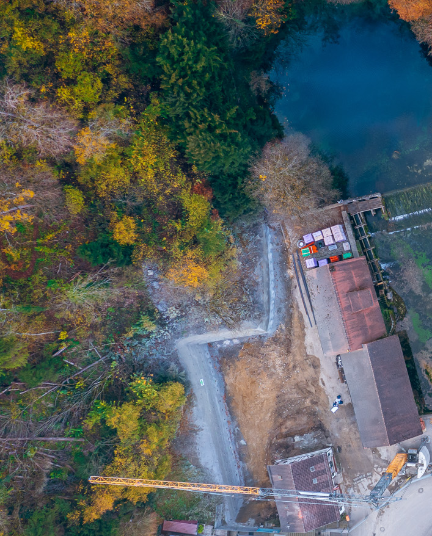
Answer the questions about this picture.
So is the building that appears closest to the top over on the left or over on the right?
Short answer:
right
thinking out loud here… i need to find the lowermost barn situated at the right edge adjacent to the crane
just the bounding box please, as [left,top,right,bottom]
[340,335,422,450]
